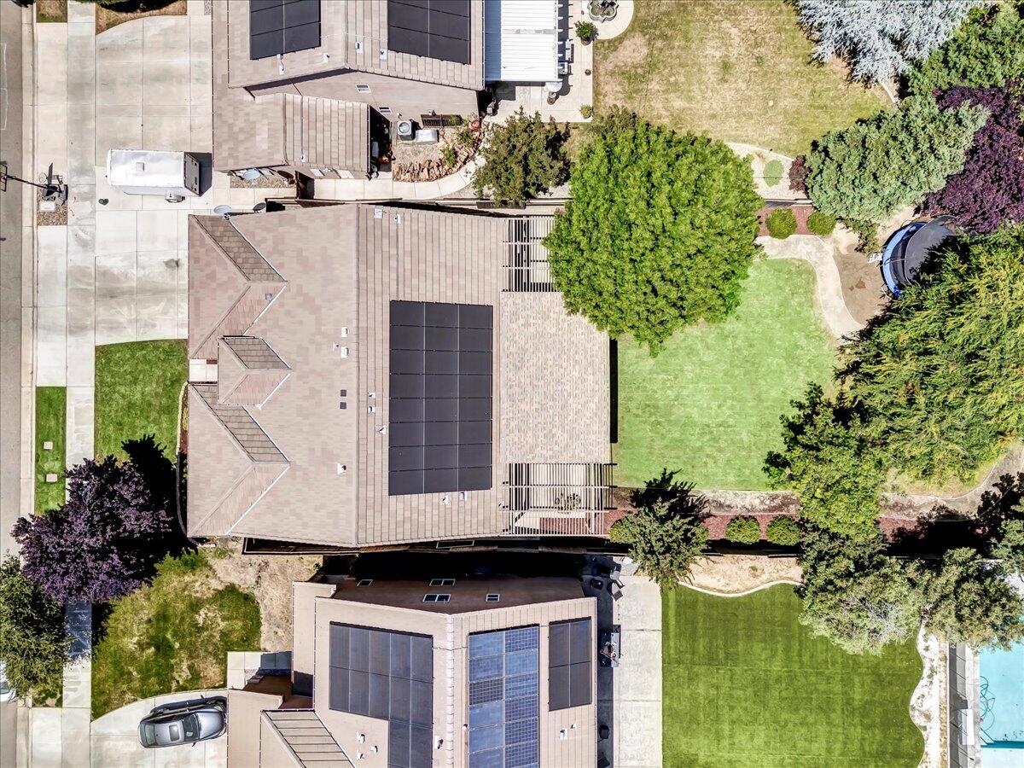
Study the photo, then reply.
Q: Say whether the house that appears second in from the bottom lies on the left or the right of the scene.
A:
left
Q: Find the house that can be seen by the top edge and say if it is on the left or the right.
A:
left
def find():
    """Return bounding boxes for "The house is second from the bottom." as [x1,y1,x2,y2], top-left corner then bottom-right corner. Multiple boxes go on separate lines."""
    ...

[186,202,505,548]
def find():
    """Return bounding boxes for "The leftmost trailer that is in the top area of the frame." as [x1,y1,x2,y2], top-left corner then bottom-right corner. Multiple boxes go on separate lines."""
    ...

[107,150,198,201]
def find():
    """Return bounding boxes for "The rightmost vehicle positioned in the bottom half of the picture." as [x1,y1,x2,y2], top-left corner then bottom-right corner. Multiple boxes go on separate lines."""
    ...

[139,697,226,745]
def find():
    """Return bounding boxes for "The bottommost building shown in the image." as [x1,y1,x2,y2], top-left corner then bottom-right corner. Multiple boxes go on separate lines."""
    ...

[226,576,598,768]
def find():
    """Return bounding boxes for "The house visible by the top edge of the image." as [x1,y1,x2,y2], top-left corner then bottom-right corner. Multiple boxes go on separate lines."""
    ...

[212,0,487,176]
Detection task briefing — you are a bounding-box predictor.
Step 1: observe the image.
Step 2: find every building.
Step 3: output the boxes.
[186,202,505,548]
[212,0,487,176]
[226,576,598,768]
